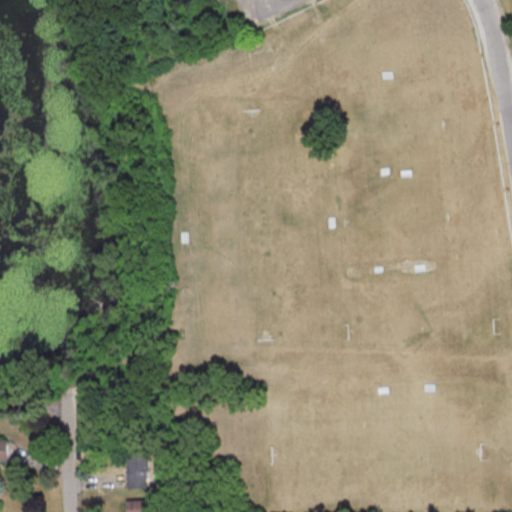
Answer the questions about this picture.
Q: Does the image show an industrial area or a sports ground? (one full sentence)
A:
The area seen from above is a sports ground.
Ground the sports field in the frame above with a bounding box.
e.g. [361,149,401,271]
[148,0,512,512]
